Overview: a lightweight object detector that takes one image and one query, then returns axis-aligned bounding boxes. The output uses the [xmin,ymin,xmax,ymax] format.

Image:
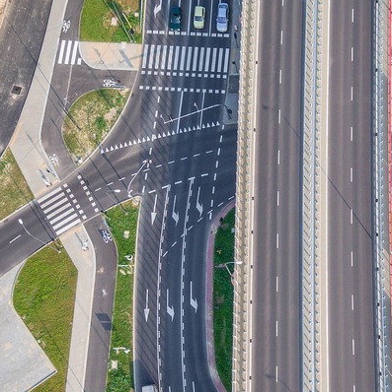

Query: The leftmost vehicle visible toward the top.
[167,1,181,30]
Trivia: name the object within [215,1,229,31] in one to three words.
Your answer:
vehicle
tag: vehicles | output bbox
[167,1,181,30]
[192,3,204,28]
[215,1,229,31]
[141,386,157,392]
